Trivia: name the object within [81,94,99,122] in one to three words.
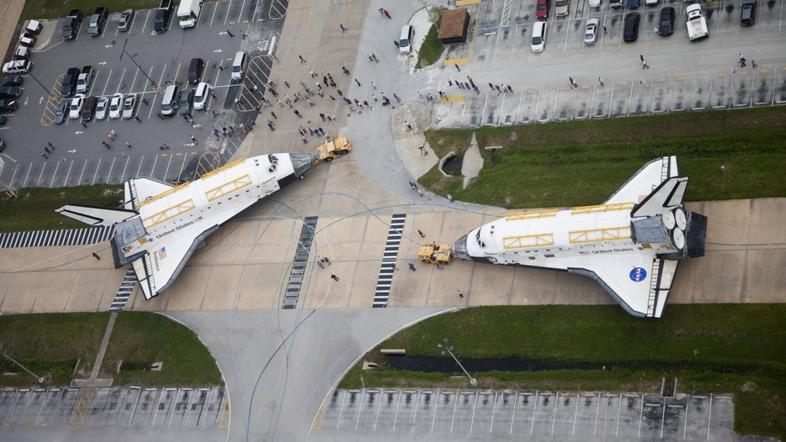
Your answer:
car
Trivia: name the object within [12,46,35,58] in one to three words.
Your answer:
vehicle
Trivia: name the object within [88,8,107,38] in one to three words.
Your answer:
vehicle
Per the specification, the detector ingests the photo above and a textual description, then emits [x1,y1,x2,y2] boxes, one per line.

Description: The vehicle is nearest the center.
[416,244,454,266]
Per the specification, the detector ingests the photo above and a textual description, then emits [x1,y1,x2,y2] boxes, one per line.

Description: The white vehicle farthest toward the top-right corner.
[689,3,707,42]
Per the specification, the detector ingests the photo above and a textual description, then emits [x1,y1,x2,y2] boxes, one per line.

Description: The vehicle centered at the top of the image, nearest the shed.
[396,24,415,55]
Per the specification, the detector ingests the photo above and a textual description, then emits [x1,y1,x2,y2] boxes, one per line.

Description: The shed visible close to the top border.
[438,8,472,47]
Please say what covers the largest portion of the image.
paved ground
